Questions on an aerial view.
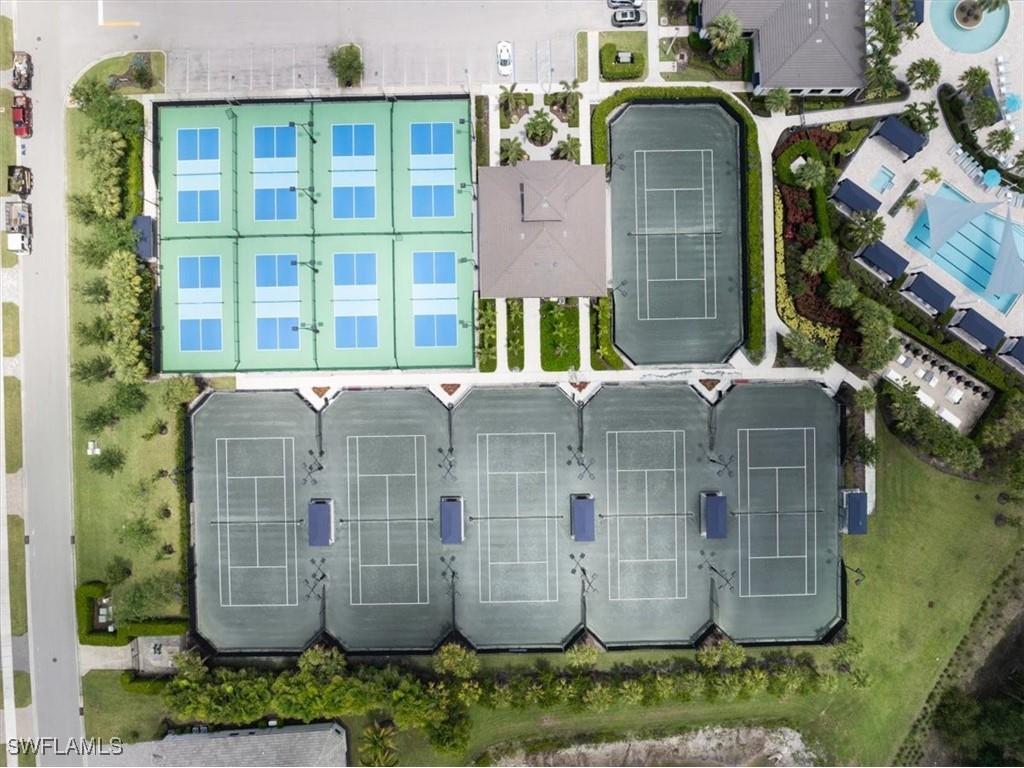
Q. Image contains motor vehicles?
Yes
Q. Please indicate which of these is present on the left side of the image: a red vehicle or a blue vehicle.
red vehicle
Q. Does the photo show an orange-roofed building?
No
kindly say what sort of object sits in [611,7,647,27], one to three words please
car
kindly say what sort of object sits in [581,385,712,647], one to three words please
tennis court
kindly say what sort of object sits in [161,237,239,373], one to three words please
sports court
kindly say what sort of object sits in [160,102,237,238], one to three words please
sports court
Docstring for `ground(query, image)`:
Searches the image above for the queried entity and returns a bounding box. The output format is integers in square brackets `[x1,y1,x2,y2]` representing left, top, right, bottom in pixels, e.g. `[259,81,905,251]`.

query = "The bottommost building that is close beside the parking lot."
[477,160,607,299]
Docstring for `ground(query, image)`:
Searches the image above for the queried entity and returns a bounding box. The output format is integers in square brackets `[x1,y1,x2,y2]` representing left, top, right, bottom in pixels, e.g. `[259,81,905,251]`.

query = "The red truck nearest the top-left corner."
[11,94,33,138]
